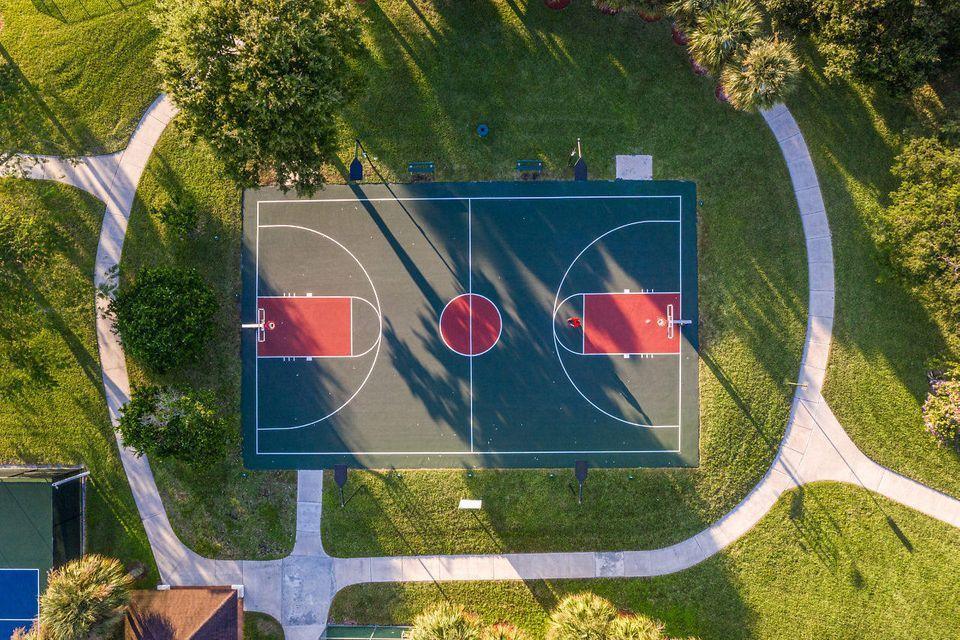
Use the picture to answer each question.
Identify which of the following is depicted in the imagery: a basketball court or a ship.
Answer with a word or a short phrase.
basketball court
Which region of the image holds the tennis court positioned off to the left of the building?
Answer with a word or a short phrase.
bottom left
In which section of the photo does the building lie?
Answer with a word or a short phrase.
bottom left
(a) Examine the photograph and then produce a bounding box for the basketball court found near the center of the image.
[242,181,699,470]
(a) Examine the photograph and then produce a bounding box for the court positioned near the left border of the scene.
[0,469,81,640]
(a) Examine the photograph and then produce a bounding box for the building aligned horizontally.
[124,585,245,640]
